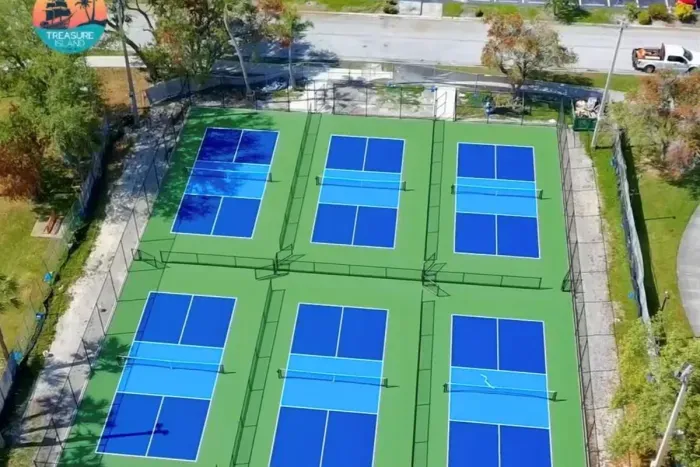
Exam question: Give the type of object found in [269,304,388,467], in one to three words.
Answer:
sports court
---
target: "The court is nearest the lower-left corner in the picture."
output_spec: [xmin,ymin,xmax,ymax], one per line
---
[95,292,237,460]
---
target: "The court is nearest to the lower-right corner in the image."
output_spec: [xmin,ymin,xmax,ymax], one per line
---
[448,315,552,467]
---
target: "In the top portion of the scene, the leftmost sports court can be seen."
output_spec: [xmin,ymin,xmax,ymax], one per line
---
[171,126,279,239]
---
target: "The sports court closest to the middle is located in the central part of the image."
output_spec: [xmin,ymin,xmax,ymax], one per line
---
[311,134,405,248]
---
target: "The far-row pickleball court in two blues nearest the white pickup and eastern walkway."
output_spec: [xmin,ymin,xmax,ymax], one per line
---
[455,142,539,258]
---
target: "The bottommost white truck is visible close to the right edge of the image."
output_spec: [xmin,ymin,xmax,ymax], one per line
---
[631,40,700,75]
